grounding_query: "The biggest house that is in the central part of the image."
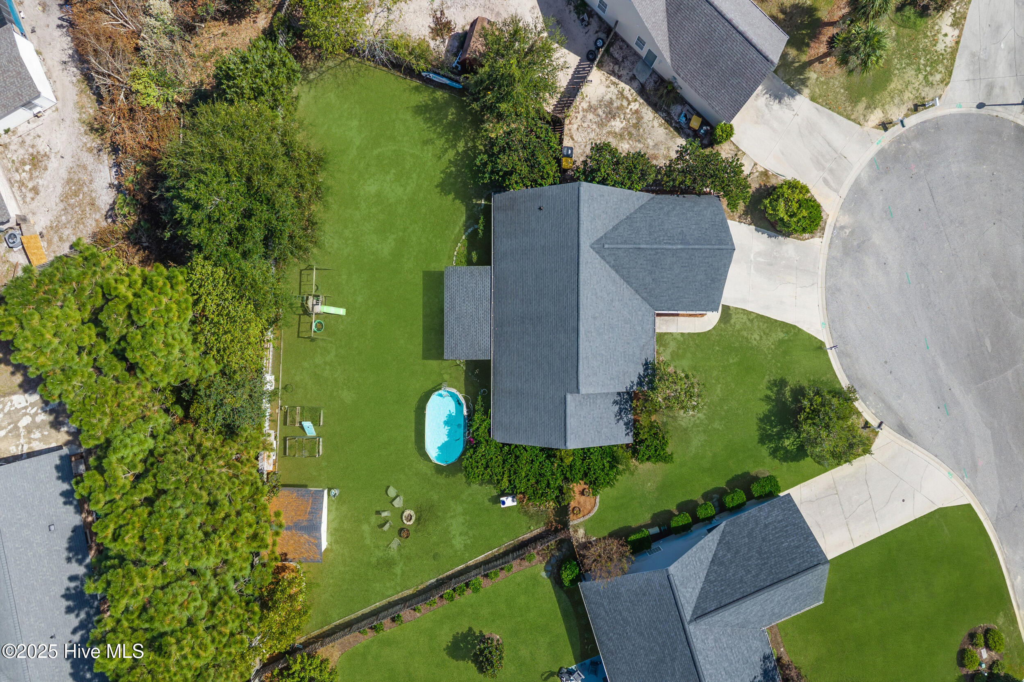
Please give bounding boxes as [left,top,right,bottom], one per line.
[444,183,735,450]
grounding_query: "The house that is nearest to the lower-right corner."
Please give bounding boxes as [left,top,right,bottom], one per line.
[577,495,829,682]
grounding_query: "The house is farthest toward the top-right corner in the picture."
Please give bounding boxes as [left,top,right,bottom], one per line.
[595,0,790,126]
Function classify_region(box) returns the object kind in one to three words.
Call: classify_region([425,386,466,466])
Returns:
swimming pool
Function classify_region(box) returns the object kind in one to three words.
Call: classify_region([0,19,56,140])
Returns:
house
